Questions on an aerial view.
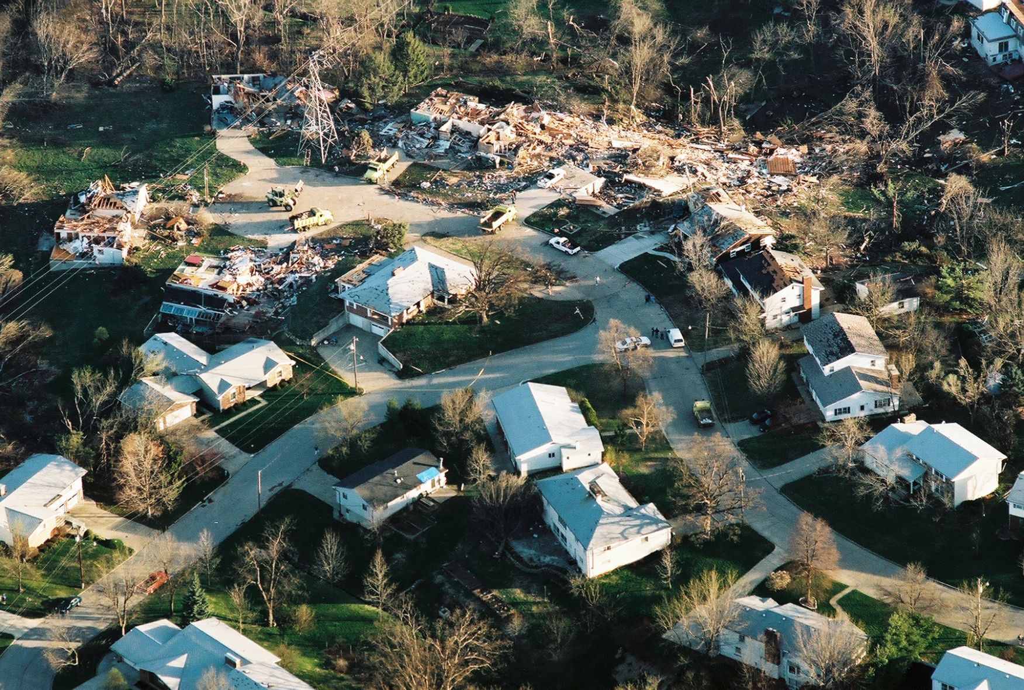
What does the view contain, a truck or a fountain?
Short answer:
truck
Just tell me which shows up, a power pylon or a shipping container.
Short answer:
power pylon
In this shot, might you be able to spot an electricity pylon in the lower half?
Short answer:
No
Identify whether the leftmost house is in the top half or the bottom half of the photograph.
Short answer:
bottom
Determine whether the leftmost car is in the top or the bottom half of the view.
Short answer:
bottom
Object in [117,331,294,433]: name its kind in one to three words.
house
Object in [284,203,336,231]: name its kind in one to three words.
truck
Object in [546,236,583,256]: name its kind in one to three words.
vehicle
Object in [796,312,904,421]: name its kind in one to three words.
house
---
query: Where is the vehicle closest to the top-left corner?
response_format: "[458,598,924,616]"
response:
[260,179,312,210]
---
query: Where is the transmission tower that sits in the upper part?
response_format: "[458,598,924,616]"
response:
[293,41,341,164]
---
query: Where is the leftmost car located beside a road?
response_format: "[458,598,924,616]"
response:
[44,593,85,615]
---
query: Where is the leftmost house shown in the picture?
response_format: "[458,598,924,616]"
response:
[0,452,88,575]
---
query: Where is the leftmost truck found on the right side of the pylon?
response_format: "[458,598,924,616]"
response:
[361,150,400,184]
